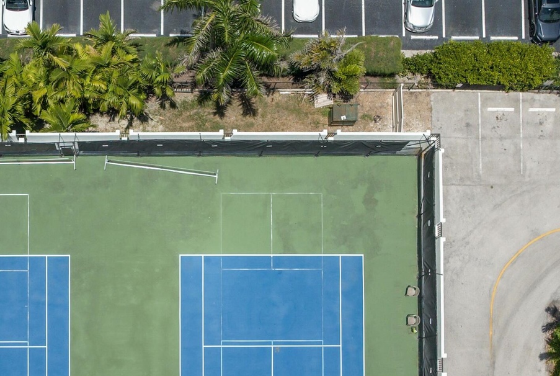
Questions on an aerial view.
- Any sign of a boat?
No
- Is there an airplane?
No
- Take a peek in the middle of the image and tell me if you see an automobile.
No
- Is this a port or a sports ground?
sports ground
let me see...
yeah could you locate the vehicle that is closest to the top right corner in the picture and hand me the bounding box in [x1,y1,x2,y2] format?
[527,0,560,47]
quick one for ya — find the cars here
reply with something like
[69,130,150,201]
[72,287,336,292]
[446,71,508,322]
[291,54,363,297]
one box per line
[1,0,35,37]
[527,0,560,47]
[289,0,323,26]
[402,0,437,35]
